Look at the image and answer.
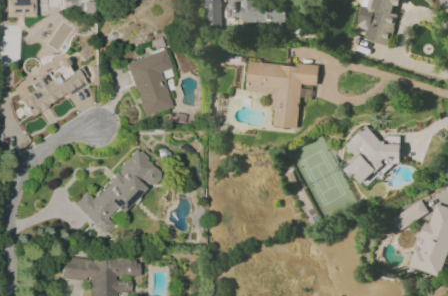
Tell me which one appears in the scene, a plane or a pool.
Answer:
pool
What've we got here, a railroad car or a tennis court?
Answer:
tennis court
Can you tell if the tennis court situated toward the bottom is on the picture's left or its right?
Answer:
right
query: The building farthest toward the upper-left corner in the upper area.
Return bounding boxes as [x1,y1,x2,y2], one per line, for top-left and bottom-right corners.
[8,0,39,17]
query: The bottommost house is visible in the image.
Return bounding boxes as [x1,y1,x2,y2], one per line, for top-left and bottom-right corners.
[62,258,142,296]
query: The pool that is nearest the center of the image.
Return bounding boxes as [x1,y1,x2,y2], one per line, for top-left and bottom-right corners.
[234,106,266,126]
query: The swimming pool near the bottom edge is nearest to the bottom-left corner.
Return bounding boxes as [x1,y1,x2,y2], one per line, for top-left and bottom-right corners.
[152,272,168,296]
